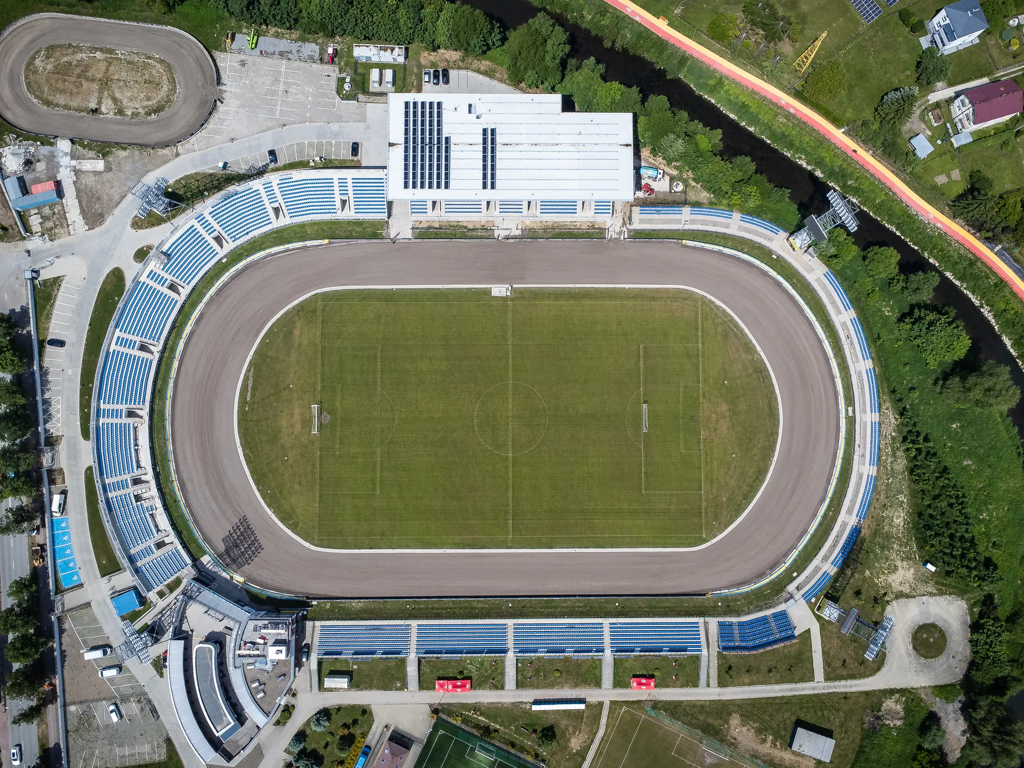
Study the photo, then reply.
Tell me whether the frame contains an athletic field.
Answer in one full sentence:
Yes, there's an athletic field here.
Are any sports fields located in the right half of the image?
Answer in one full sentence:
Yes, looking in the right half of the image, one can make out a sports field.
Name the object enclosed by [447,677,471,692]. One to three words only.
tent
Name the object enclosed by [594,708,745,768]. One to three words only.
sports field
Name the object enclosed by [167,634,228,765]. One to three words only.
building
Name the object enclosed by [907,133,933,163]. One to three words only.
shed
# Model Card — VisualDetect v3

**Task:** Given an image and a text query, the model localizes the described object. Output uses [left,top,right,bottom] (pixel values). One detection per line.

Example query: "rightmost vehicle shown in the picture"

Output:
[922,561,940,573]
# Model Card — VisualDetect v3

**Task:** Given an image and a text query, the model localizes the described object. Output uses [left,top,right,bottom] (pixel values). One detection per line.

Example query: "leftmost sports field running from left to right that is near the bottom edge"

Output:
[413,716,537,768]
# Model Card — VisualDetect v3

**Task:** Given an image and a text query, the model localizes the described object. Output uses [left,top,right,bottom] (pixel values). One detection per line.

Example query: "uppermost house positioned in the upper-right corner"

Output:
[929,0,988,50]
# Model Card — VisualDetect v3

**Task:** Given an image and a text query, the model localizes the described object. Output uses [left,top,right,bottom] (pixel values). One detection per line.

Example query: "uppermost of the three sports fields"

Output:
[317,302,703,538]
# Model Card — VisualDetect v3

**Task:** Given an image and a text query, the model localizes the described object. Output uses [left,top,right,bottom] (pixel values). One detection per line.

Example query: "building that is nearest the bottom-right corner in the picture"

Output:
[786,720,835,762]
